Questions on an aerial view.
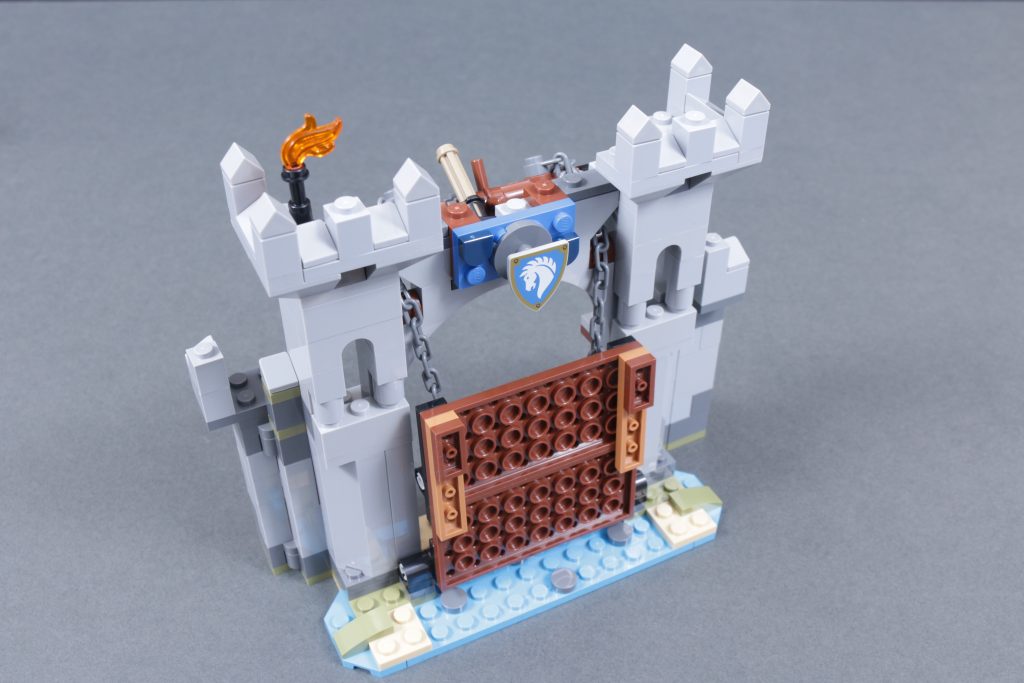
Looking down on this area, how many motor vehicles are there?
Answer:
0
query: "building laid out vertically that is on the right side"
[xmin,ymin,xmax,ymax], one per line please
[593,44,770,488]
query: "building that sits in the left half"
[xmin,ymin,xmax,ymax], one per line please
[221,144,444,600]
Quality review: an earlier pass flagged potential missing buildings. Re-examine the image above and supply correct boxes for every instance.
[221,144,444,600]
[593,44,770,488]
